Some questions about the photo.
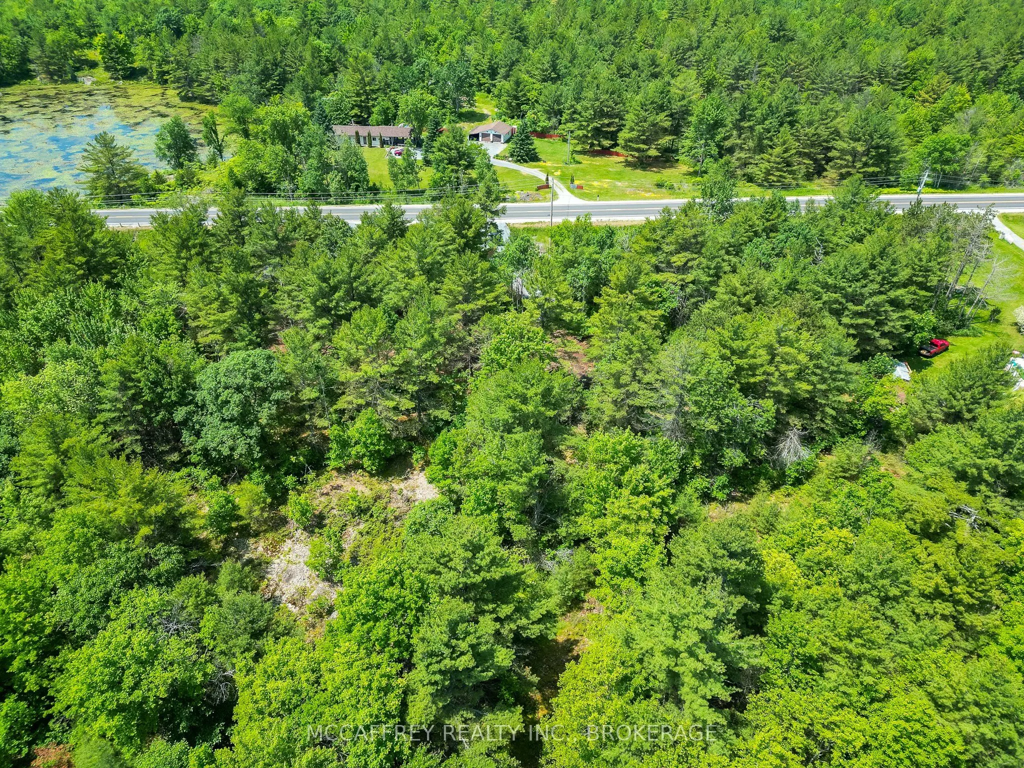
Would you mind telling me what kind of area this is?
forest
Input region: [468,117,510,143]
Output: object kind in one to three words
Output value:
building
